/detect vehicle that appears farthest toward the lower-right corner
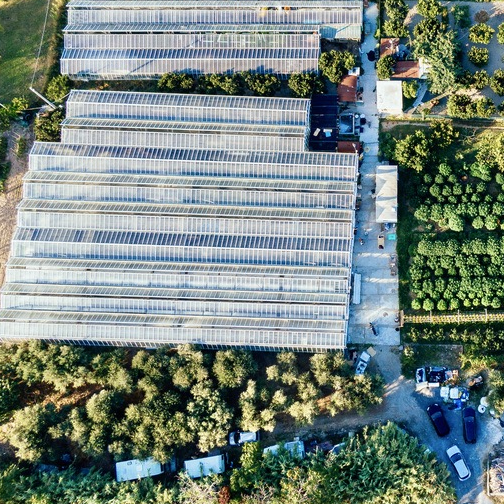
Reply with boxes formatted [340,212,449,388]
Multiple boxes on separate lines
[443,444,474,483]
